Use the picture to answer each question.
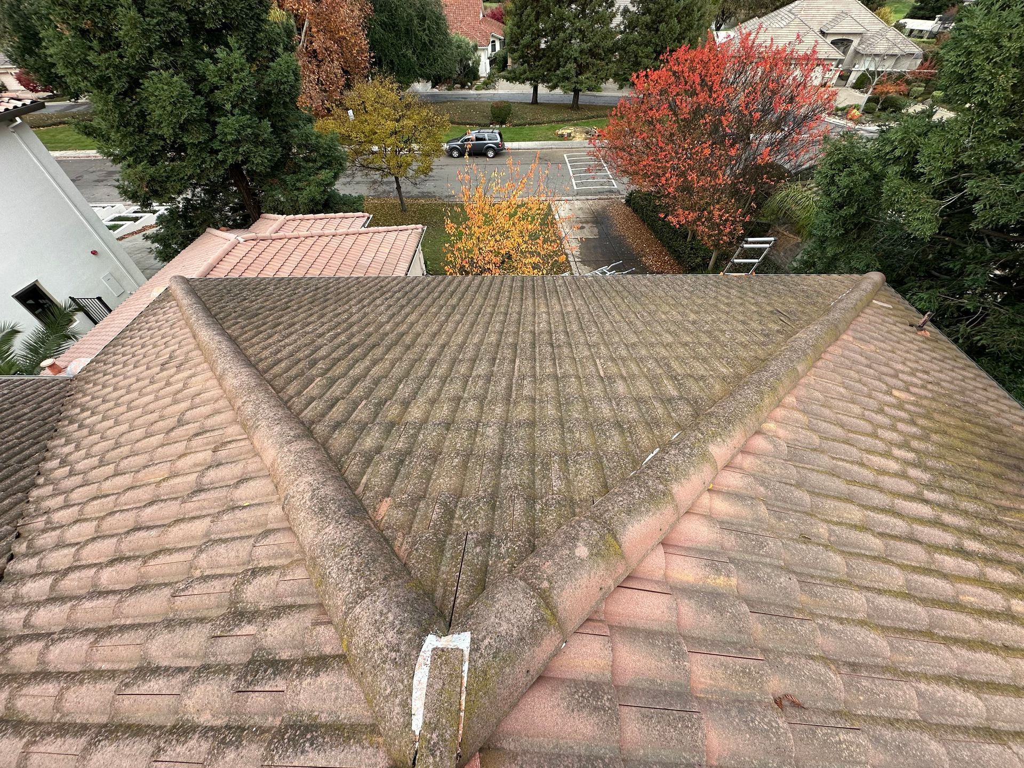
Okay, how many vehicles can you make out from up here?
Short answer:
one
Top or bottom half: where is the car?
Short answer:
top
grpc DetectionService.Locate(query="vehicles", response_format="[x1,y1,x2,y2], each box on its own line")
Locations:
[442,124,506,156]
